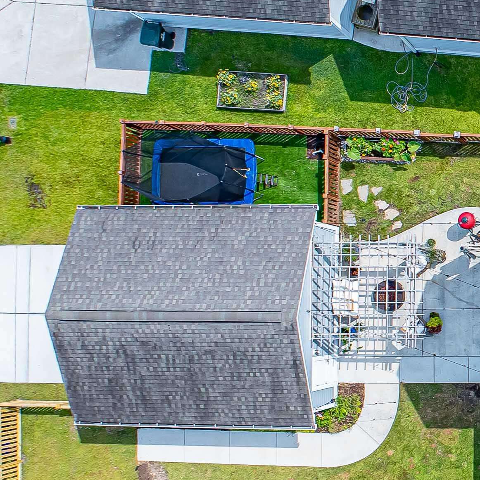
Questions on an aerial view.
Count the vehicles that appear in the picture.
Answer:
zero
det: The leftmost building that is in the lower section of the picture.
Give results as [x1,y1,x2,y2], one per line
[42,201,338,430]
